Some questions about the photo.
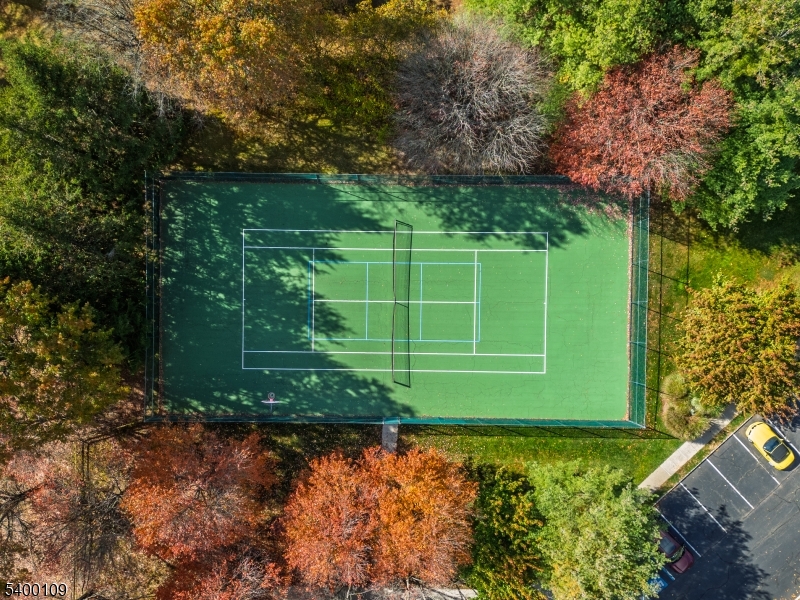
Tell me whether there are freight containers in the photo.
No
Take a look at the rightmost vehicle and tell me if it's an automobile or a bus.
automobile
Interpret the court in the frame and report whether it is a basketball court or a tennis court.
tennis court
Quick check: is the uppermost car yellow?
Yes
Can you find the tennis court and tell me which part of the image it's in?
center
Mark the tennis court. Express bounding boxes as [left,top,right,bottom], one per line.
[159,180,634,420]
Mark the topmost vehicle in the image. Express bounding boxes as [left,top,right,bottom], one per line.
[743,420,791,470]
